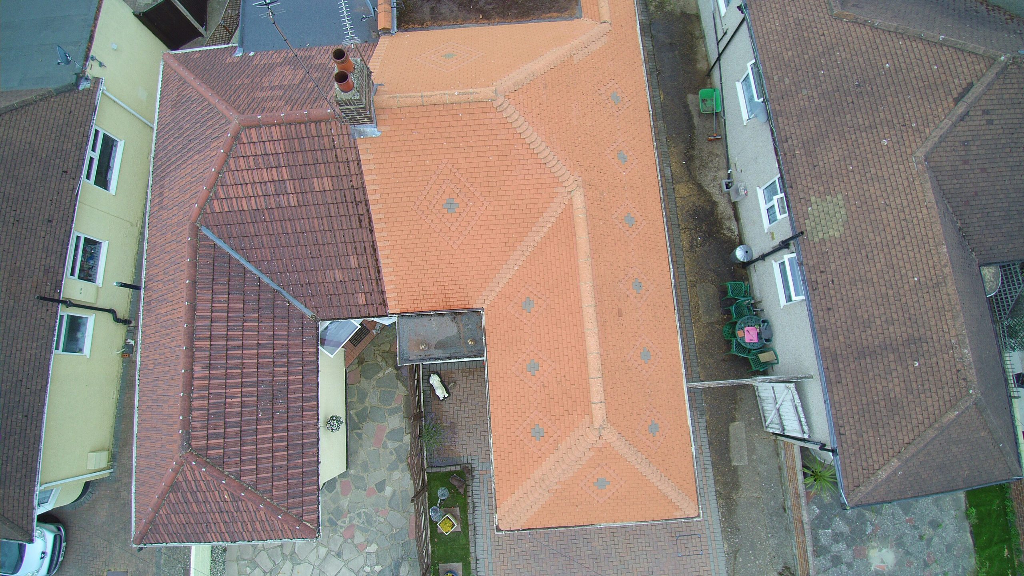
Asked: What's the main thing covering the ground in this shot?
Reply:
buildings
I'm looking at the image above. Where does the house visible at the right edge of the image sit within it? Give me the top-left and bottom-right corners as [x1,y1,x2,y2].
[696,0,1024,510]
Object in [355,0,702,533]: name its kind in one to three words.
house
